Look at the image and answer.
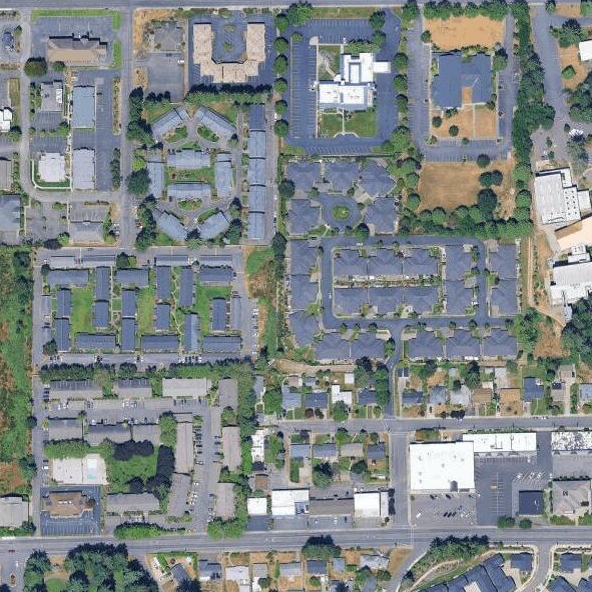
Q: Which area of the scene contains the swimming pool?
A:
bottom left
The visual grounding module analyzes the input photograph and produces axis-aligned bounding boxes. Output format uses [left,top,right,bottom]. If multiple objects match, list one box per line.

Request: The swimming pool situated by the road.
[53,453,107,486]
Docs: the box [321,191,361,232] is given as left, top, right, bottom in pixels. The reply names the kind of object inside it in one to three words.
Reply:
roundabout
